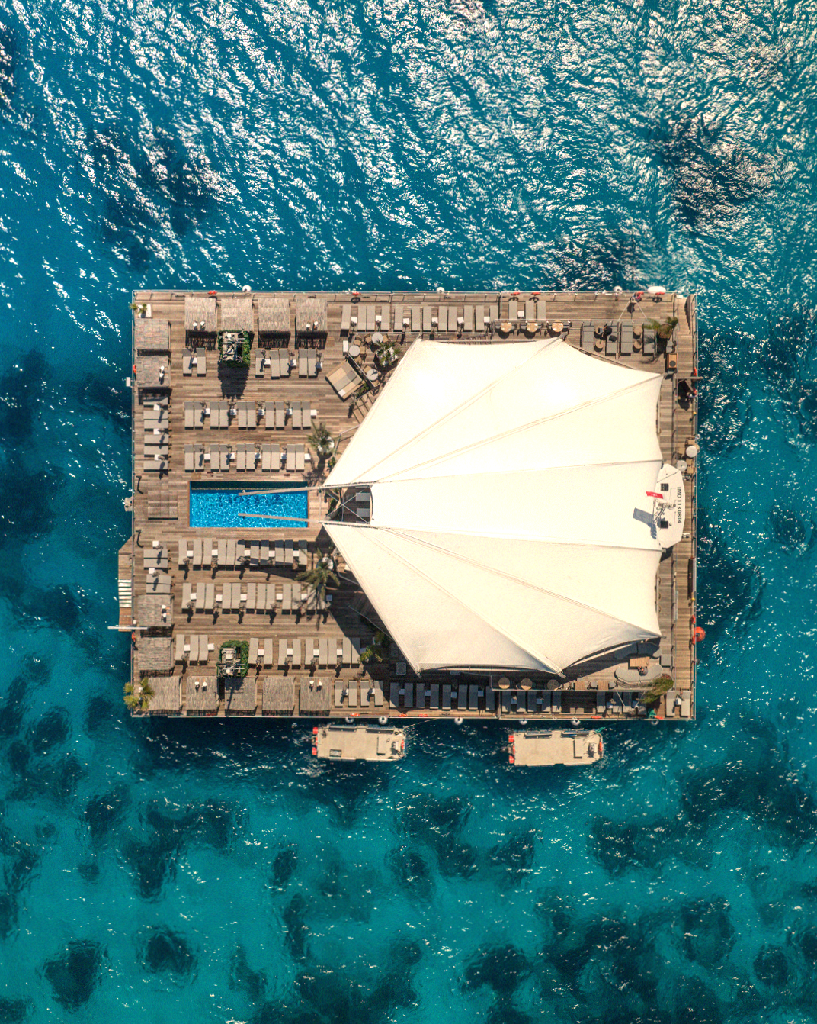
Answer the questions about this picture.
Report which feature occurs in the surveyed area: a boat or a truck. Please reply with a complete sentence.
Looking from above, you can make out a boat.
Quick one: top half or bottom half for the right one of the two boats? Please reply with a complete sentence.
The bottom half of the photo is where the right one of the two boats is.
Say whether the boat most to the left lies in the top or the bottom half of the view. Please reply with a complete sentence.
The bottom half of the photo is where the boat most to the left is.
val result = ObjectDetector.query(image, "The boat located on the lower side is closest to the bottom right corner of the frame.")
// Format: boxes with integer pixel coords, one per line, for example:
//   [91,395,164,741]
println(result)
[505,727,605,765]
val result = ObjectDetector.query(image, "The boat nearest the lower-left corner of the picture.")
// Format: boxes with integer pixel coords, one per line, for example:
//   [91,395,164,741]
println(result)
[311,723,406,761]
